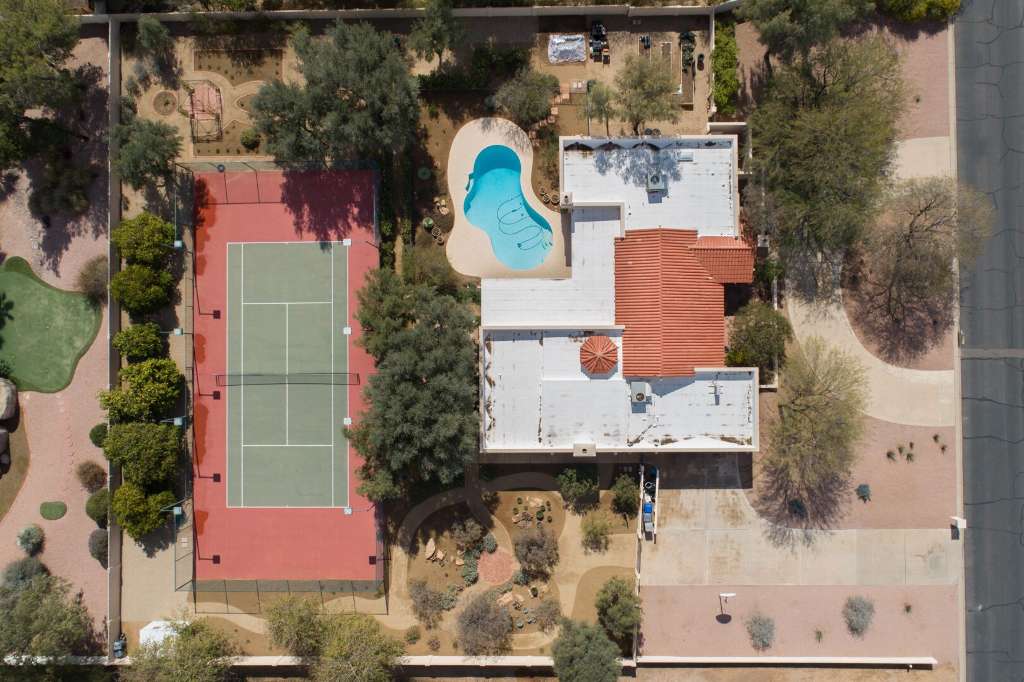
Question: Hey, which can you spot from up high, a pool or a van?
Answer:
pool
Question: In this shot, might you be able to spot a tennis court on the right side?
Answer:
No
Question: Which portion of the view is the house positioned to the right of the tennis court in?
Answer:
center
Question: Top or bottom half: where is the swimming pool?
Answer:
top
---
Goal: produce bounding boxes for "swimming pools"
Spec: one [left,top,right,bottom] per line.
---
[446,117,572,280]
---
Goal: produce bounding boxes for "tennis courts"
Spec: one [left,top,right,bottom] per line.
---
[193,169,383,580]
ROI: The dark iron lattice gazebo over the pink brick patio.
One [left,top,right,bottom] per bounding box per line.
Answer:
[178,76,221,119]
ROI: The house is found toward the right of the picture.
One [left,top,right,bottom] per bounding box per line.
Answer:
[481,135,759,456]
